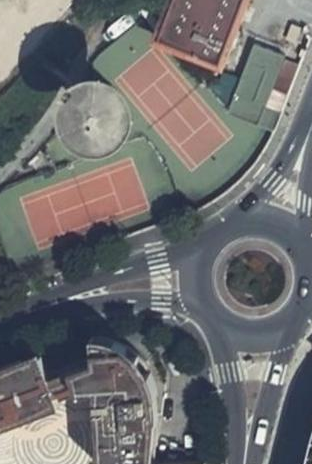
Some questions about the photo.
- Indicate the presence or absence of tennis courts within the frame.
Yes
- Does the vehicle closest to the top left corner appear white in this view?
Yes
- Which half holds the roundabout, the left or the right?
right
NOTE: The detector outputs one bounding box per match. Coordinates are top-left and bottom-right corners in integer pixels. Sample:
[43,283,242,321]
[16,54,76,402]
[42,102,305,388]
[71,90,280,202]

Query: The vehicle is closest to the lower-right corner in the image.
[255,418,268,445]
